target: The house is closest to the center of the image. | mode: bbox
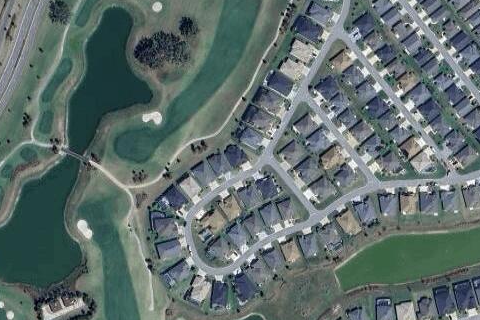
[222,142,245,169]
